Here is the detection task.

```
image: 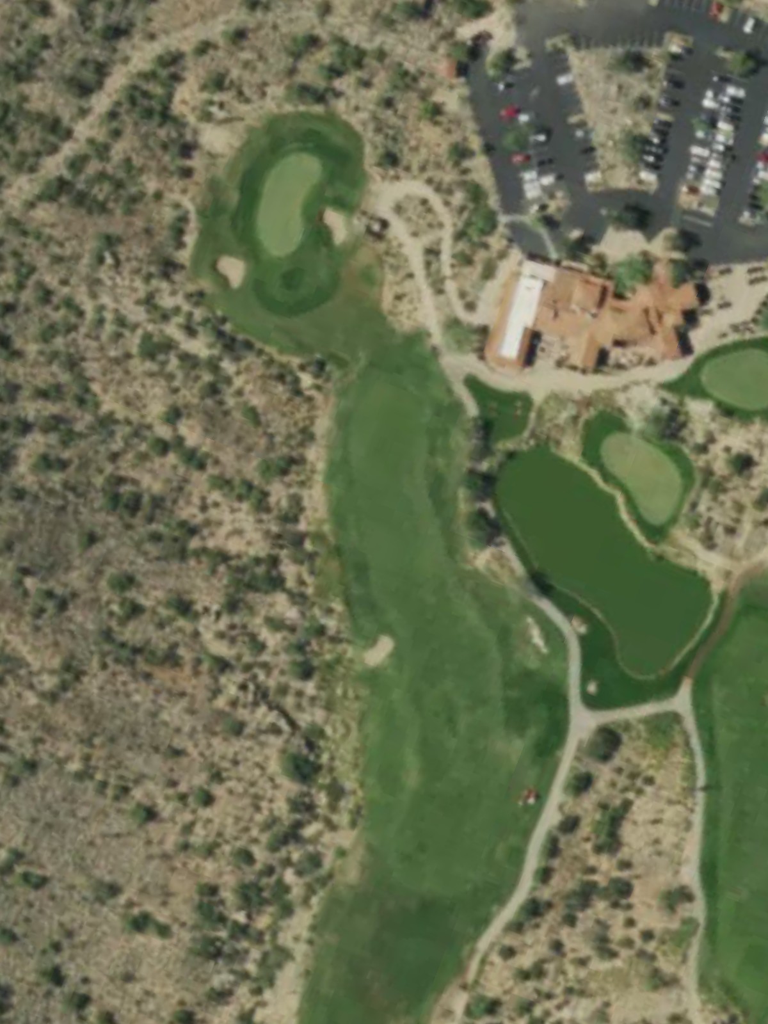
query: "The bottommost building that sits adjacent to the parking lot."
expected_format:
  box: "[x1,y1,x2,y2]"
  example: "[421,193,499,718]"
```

[486,258,704,372]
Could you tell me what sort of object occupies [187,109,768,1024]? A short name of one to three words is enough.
golf course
